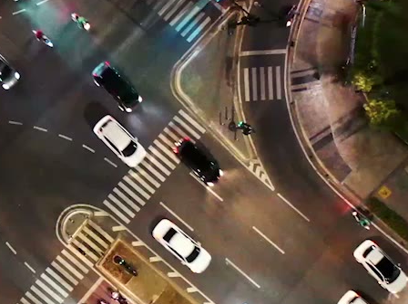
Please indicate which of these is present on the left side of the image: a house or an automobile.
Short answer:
automobile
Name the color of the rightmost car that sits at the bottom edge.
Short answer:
white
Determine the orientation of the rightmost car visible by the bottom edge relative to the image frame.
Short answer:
at an angle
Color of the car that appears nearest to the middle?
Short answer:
black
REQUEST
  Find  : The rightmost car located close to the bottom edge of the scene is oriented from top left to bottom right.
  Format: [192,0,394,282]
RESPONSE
[352,240,406,293]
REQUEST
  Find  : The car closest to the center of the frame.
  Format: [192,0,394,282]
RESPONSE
[173,137,222,186]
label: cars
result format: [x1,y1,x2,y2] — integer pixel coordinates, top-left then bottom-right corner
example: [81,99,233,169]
[91,59,142,112]
[336,290,367,304]
[92,115,145,168]
[0,54,20,90]
[173,137,222,186]
[152,219,208,270]
[352,240,406,293]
